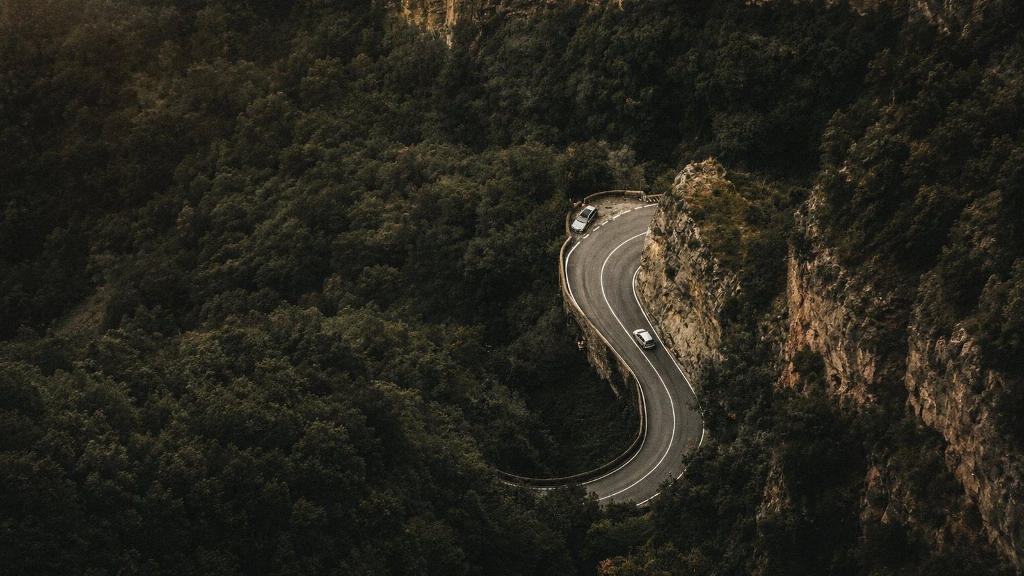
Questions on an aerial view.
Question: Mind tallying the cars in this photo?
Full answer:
Altogether the scene contains 2 cars.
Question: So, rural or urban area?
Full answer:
From above, the setting appears rural.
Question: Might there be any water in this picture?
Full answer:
No, the scene doesn't show any water.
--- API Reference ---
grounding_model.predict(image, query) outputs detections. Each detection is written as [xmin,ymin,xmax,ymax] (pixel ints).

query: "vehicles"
[634,329,656,351]
[573,205,598,231]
